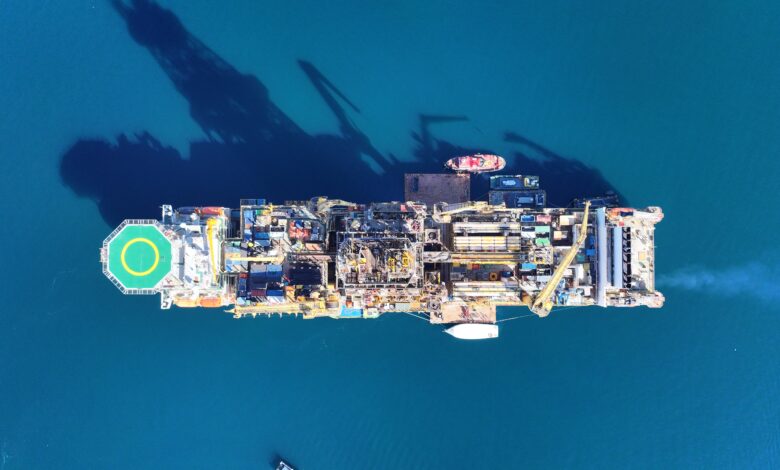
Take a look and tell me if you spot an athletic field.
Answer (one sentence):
No, no athletic field is visible in the view.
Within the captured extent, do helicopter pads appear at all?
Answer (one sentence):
Yes, the picture does show a helicopter pad.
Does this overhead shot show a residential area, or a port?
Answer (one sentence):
This image shows a port.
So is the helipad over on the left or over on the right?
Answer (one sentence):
The helipad sits on the left side.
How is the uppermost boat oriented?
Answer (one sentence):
From this overhead view, the uppermost boat appears to run horizontally.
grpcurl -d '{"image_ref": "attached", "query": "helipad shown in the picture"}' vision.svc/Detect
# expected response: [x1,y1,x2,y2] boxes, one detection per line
[100,218,187,295]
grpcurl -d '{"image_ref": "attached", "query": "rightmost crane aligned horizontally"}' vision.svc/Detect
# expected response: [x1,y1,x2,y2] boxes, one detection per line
[475,200,599,214]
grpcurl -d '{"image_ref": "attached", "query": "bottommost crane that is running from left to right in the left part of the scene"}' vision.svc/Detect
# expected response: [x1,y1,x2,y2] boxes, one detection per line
[229,290,340,315]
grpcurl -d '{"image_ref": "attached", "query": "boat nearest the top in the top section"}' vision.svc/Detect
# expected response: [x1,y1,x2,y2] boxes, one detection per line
[446,152,507,174]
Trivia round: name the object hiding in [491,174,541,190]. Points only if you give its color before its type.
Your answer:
blue boat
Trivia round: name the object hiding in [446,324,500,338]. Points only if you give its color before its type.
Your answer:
white boat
